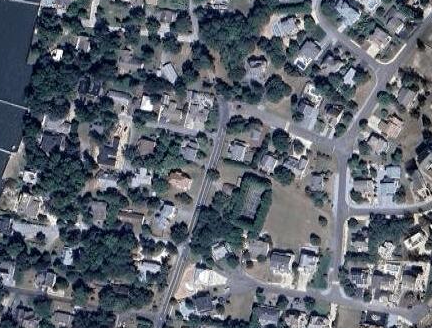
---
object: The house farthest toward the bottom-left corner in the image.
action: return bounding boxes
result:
[16,304,41,328]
